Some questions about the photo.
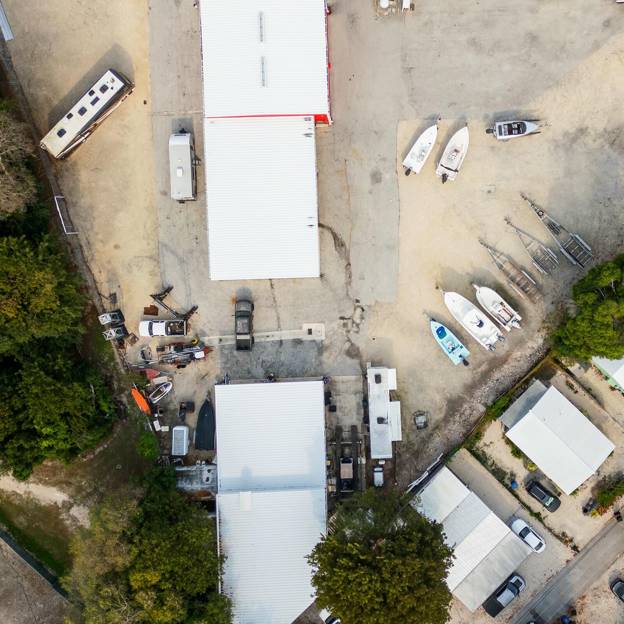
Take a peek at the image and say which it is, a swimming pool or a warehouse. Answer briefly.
warehouse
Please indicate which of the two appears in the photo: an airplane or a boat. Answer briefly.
boat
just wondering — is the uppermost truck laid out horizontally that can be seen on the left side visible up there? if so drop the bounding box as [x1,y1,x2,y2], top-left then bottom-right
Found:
[139,318,189,339]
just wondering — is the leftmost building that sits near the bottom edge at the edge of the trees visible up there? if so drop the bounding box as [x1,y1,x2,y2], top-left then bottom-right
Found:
[214,379,329,624]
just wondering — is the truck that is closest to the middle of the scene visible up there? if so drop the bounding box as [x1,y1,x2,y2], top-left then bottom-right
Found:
[232,299,254,351]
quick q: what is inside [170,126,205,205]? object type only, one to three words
vehicle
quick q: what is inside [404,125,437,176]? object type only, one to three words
boat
